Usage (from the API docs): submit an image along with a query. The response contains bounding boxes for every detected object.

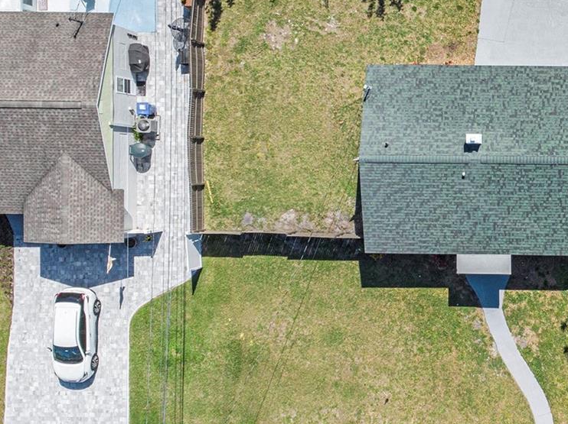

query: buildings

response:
[0,12,145,246]
[354,64,568,275]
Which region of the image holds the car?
bottom left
